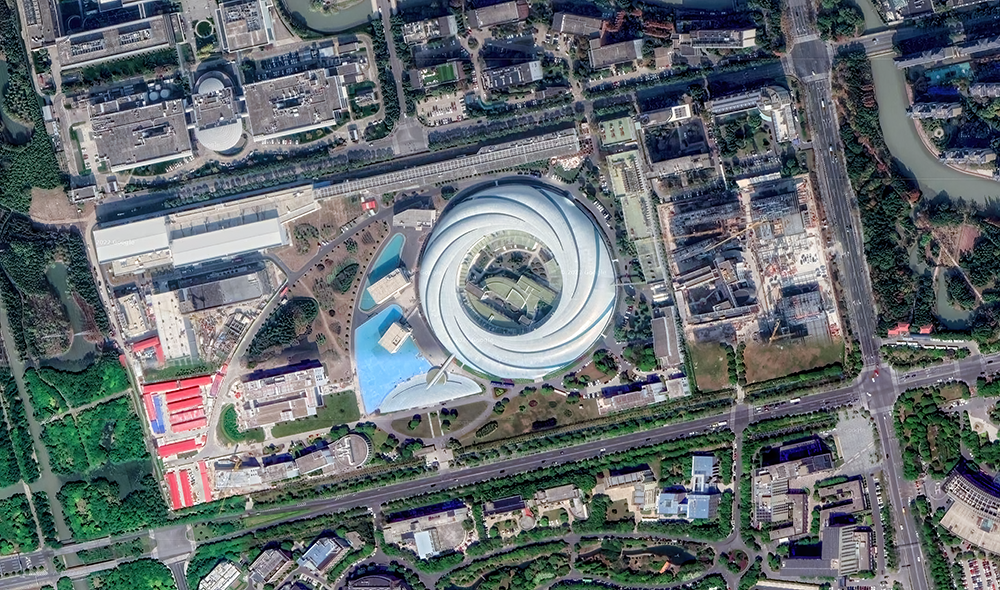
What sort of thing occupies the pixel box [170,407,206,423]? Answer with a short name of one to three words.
house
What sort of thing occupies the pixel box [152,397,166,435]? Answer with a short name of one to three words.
shed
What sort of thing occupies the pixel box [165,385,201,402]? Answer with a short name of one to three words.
house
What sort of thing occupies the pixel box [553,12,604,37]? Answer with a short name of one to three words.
building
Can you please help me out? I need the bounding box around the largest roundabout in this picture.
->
[719,541,758,579]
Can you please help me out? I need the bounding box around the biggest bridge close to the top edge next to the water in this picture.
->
[861,25,898,51]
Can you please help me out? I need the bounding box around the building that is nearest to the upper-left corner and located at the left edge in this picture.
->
[24,0,56,54]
